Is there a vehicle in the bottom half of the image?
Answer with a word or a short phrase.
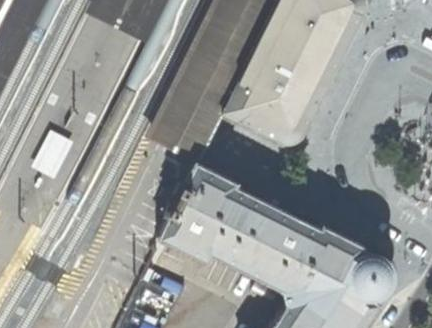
Yes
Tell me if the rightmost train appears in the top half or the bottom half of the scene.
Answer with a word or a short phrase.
top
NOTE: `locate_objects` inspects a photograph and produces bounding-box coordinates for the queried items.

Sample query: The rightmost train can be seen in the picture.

[64,0,185,202]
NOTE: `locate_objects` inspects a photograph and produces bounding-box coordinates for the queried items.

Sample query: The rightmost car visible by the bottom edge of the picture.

[382,304,399,326]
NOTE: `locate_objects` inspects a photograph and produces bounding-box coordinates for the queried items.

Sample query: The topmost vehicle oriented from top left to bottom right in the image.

[379,222,404,242]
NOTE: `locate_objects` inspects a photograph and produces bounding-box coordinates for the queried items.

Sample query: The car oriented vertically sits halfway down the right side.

[336,163,348,186]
